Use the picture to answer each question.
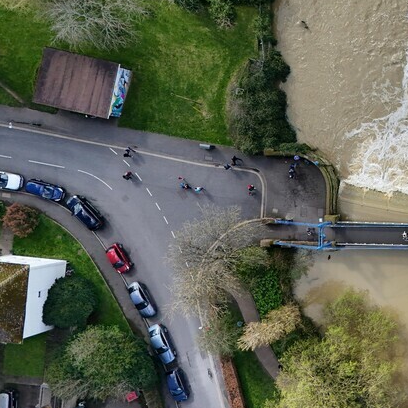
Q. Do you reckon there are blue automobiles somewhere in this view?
Yes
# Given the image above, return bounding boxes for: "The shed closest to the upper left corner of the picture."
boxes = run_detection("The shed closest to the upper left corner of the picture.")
[33,47,131,119]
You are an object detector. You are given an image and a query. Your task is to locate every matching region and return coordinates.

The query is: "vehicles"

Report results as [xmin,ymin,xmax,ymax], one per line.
[0,388,18,408]
[21,180,66,204]
[0,171,22,193]
[145,323,179,369]
[62,191,107,236]
[161,365,192,407]
[124,278,158,322]
[102,239,134,278]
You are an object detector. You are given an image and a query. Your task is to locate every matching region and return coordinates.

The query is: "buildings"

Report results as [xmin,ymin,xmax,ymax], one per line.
[0,254,66,347]
[33,47,131,119]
